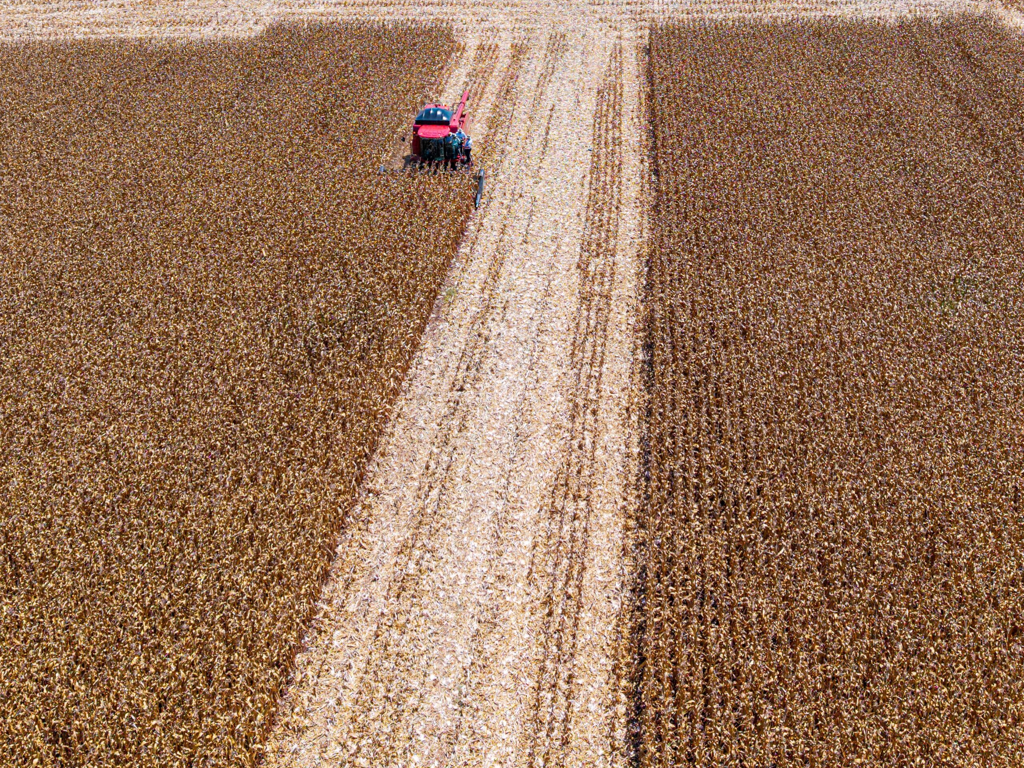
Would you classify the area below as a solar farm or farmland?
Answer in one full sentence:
This looks like farmland.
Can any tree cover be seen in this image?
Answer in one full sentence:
No, tree cover can't be seen anywhere here.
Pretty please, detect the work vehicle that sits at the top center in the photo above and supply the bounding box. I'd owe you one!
[376,84,487,213]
